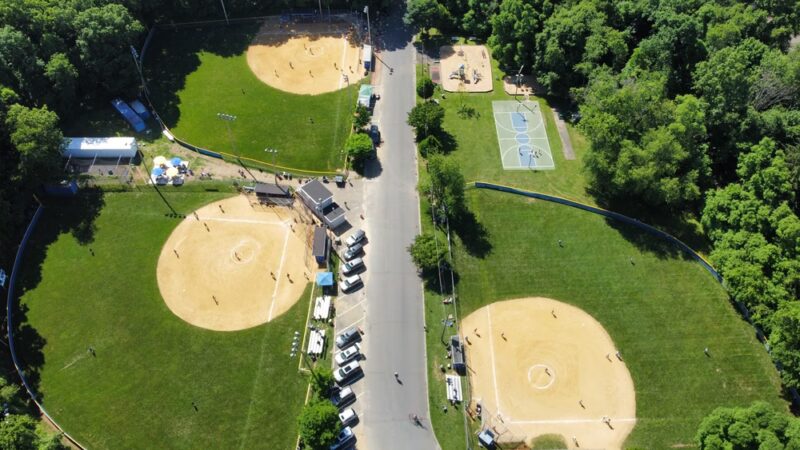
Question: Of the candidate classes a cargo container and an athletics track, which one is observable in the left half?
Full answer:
The feature located in the left half is a cargo container.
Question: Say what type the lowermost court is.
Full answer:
It turns out the lowermost court is a basketball court.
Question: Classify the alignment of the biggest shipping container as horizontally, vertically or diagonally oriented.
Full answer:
I'd say the biggest shipping container is aligned diagonally in the picture.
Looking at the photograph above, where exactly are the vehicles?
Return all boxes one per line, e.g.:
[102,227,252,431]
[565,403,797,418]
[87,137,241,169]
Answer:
[330,427,358,450]
[336,329,362,349]
[342,242,365,260]
[335,345,361,365]
[341,256,365,275]
[334,362,360,383]
[331,387,359,409]
[339,275,362,292]
[334,442,355,450]
[344,230,367,247]
[335,406,360,428]
[370,123,380,141]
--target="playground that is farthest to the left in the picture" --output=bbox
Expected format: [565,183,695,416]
[440,45,493,92]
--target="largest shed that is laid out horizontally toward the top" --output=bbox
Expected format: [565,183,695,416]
[61,138,141,159]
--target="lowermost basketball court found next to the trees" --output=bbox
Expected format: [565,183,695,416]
[493,101,553,170]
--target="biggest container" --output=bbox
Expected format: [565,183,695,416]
[111,98,148,138]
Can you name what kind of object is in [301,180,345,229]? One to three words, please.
building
